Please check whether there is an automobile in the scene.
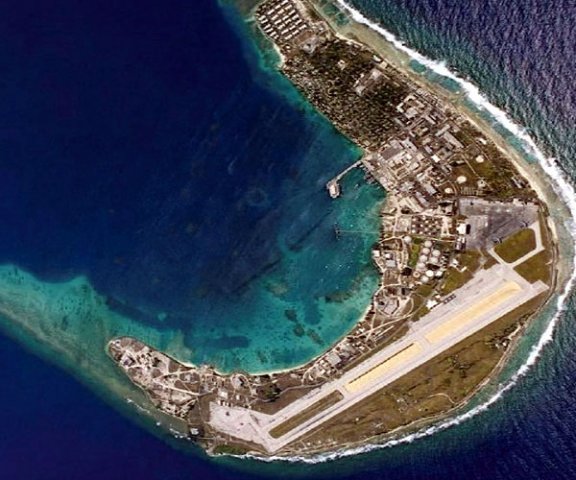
No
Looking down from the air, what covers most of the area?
water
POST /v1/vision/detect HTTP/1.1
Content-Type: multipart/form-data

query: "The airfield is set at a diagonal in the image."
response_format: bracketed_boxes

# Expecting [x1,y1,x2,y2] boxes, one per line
[210,198,549,452]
